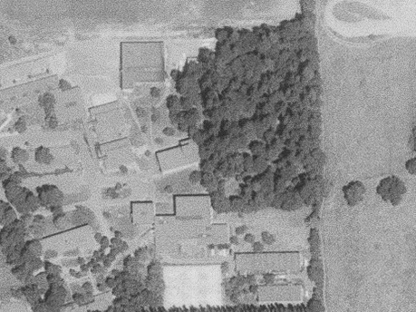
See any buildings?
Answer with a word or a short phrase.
Yes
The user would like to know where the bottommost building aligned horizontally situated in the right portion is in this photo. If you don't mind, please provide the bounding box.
[258,285,303,302]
